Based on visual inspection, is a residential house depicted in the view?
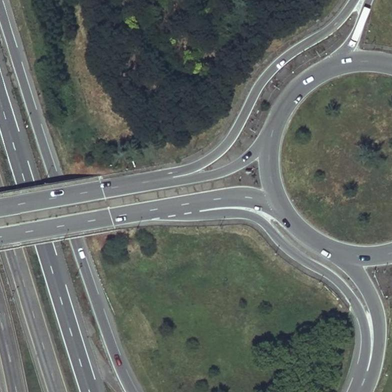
No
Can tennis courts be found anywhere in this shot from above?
No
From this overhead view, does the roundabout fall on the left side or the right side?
right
